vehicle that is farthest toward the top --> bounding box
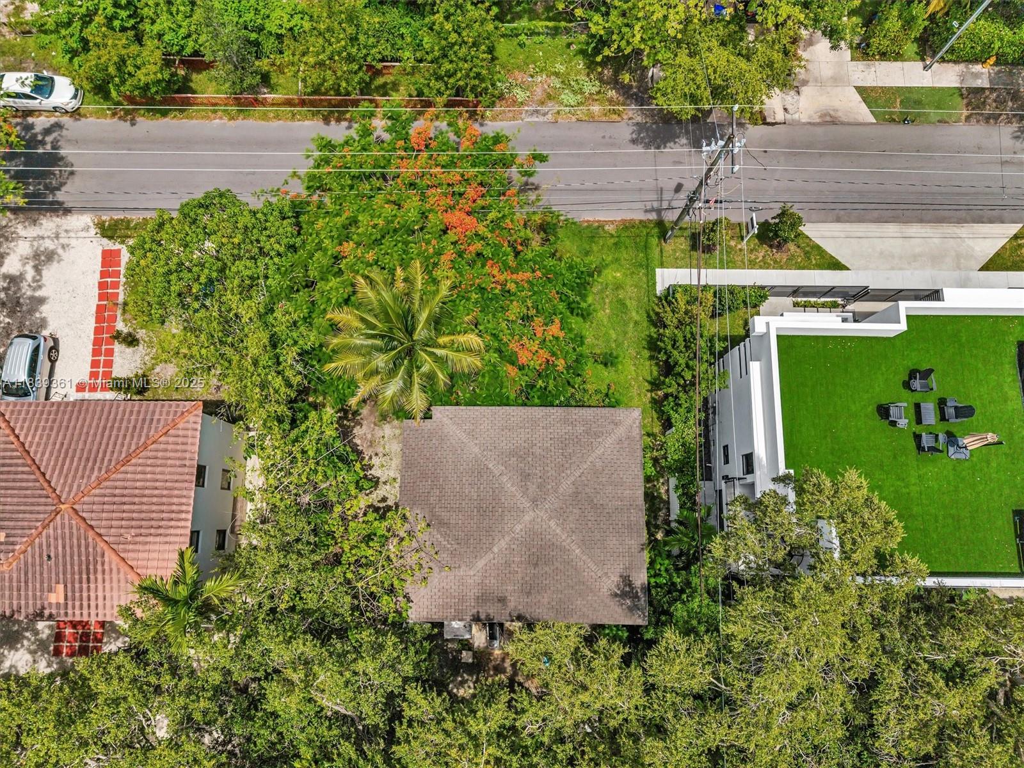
[0,67,88,115]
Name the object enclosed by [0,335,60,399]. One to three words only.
car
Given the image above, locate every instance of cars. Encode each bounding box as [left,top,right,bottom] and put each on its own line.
[0,67,88,115]
[0,335,60,399]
